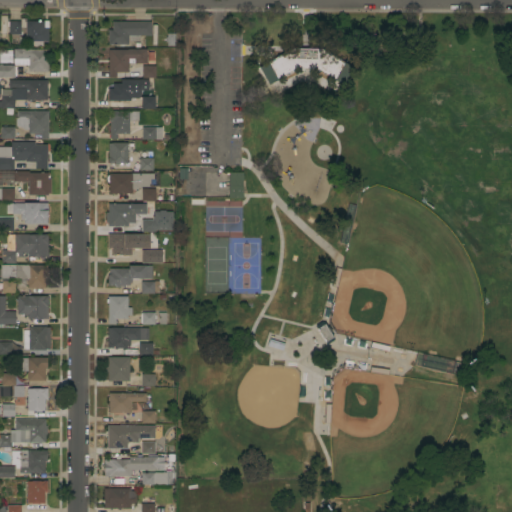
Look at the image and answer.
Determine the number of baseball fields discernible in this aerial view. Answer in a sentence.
In total, 3 baseball fields can be seen.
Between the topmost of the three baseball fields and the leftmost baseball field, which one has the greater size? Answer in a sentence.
Compared with the leftmost baseball field, the topmost of the three baseball fields is the larger one.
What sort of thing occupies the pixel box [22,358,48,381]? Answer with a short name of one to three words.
house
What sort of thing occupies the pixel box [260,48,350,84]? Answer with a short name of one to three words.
building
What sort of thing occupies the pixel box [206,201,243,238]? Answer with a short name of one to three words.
basketball court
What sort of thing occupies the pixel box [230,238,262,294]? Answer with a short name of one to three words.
basketball court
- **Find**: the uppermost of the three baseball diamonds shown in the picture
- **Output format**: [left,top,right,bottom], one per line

[331,184,484,360]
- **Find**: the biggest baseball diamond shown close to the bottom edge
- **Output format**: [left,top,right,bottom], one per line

[332,370,464,499]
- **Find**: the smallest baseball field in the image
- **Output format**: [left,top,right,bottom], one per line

[239,366,302,428]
